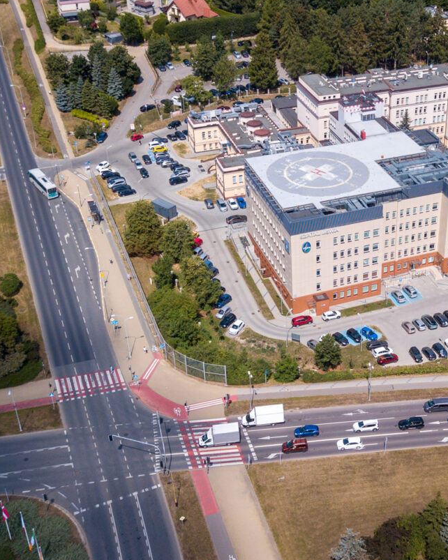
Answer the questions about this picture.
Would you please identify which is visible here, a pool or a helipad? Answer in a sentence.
The one in the frame is a helipad.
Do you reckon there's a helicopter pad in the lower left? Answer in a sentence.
No, there's no helicopter pad to be seen in the lower left.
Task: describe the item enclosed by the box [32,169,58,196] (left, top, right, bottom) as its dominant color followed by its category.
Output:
white bus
